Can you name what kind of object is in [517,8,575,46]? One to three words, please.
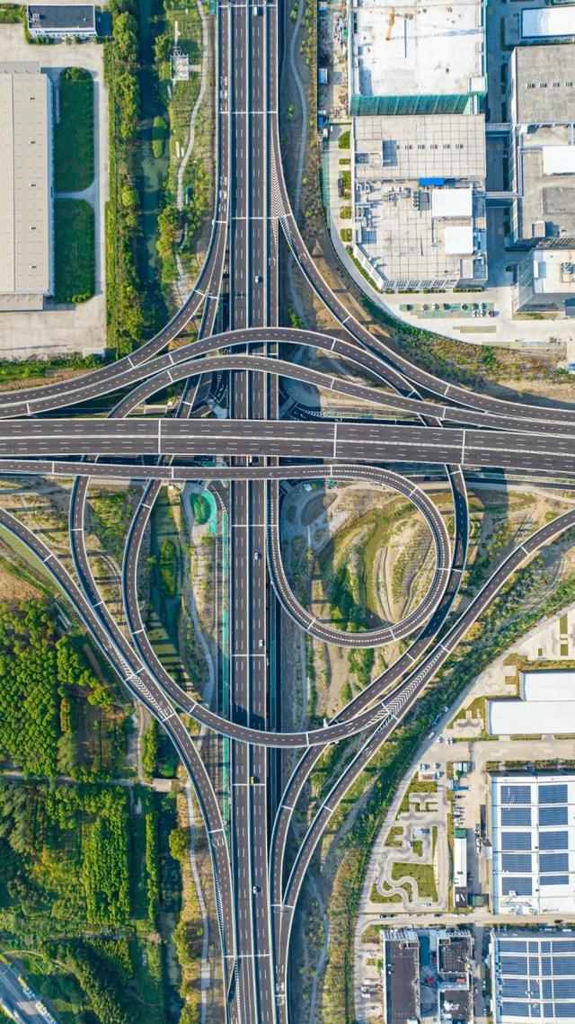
building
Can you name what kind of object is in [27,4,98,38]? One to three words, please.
building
